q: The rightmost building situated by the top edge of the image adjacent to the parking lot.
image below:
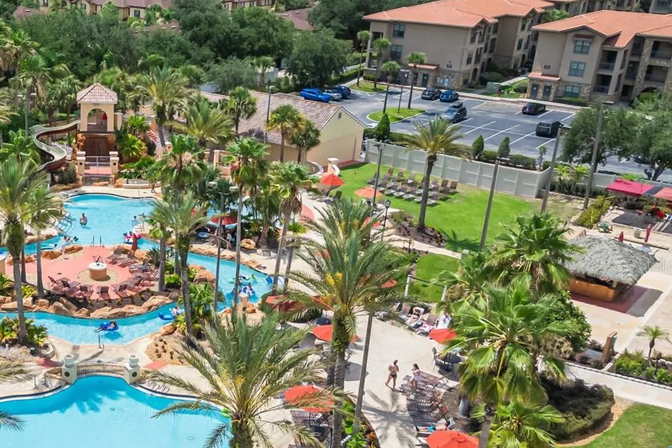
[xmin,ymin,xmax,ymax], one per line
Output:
[528,2,672,113]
